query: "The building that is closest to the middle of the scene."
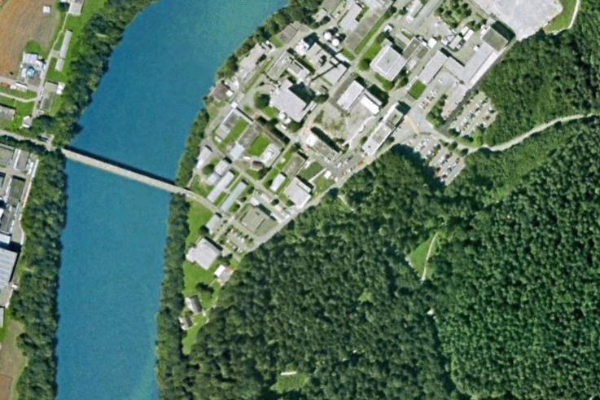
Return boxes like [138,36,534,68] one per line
[283,178,312,208]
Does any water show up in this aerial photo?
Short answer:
Yes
